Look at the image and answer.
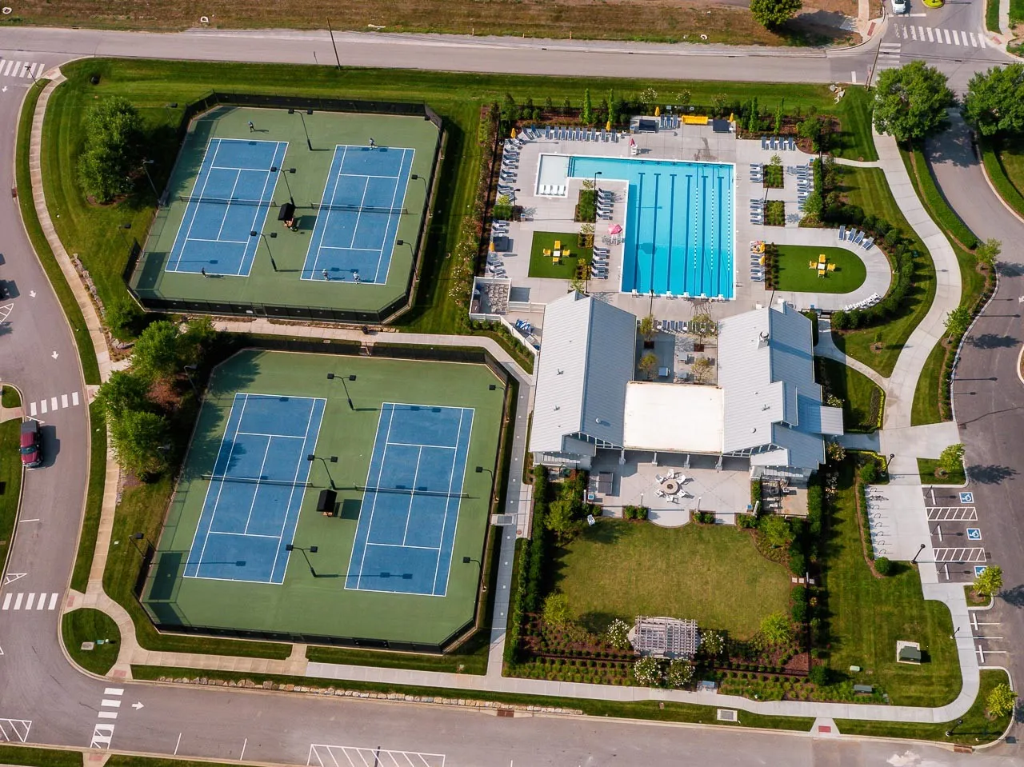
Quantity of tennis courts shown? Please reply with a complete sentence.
The number of tennis courts here is 4.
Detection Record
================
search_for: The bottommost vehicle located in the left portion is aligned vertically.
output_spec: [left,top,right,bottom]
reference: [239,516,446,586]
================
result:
[16,419,40,467]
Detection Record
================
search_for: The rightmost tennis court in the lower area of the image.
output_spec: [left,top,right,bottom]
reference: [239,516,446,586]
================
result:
[344,402,475,597]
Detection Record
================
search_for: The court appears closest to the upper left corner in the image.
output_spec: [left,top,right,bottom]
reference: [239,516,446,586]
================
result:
[165,138,289,276]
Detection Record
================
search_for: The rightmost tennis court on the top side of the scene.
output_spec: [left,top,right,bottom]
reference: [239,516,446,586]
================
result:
[300,144,415,285]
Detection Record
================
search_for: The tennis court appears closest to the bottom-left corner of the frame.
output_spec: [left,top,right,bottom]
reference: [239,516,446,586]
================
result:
[183,393,326,585]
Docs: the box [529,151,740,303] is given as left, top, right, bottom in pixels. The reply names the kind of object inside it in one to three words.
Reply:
swimming pool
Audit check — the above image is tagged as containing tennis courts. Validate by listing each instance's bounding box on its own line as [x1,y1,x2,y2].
[300,144,415,285]
[344,402,475,597]
[183,393,326,585]
[165,138,289,276]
